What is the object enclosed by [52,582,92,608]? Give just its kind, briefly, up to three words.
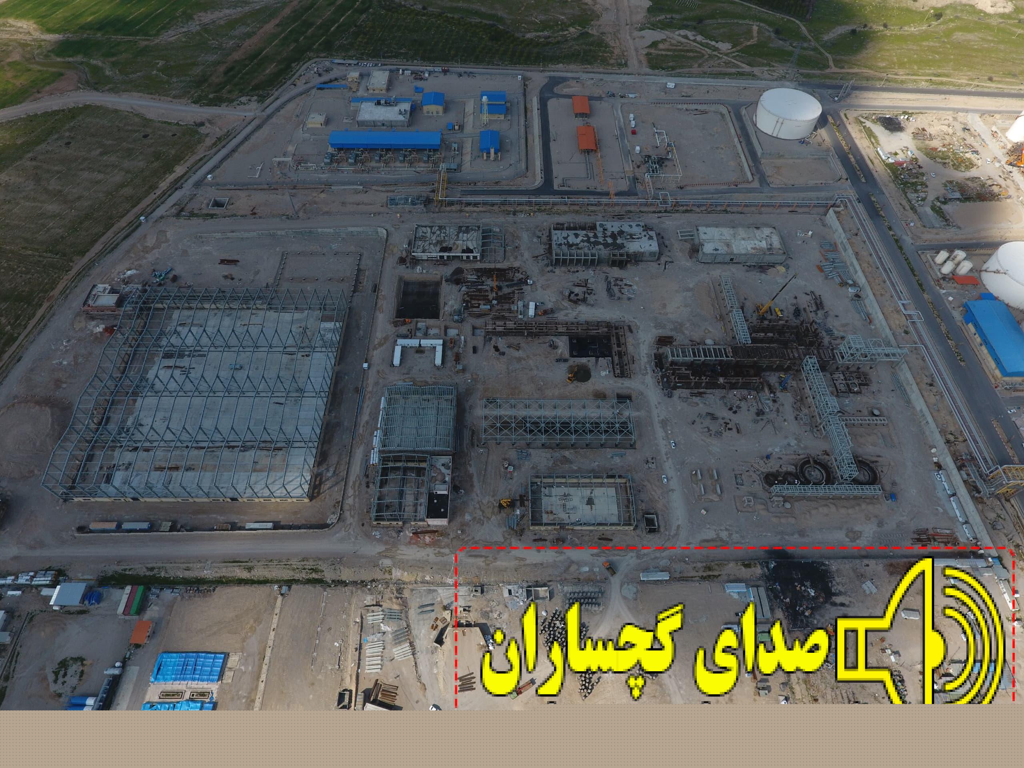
shed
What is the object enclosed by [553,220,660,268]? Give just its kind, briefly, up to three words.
building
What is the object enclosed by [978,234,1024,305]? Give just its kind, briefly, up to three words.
storage tank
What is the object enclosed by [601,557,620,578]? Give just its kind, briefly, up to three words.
vehicle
